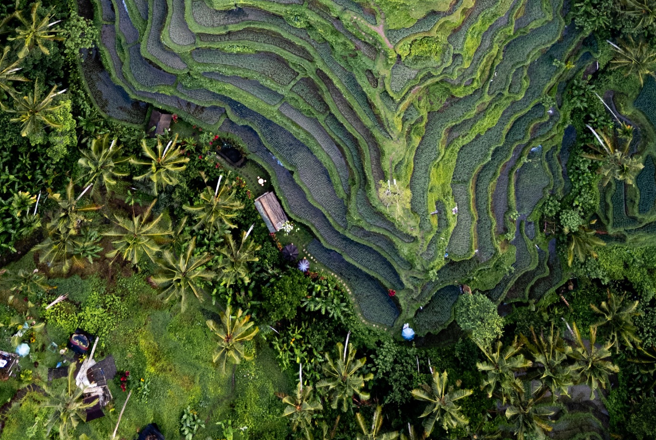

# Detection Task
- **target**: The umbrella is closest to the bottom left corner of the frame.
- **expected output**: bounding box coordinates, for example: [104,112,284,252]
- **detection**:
[17,342,31,356]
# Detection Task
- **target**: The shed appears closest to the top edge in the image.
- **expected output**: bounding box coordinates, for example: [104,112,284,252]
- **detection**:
[147,109,173,134]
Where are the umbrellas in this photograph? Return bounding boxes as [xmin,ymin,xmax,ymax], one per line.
[401,326,414,339]
[17,342,31,356]
[283,243,298,260]
[297,259,309,270]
